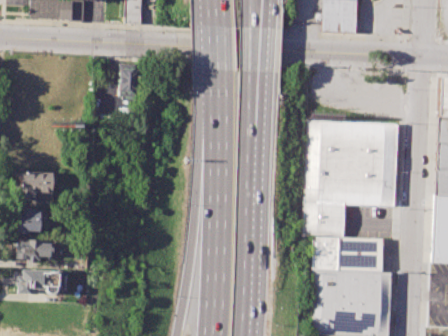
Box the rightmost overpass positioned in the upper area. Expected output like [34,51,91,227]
[241,26,282,72]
